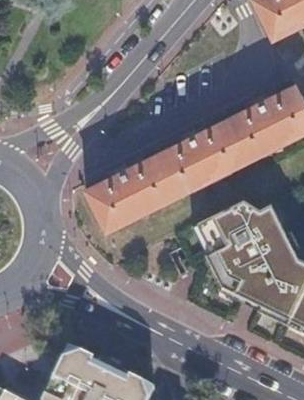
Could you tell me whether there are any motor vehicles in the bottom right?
Yes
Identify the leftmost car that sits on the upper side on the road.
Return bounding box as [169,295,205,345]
[105,52,123,72]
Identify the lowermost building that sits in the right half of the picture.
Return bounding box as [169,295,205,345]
[193,201,304,336]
